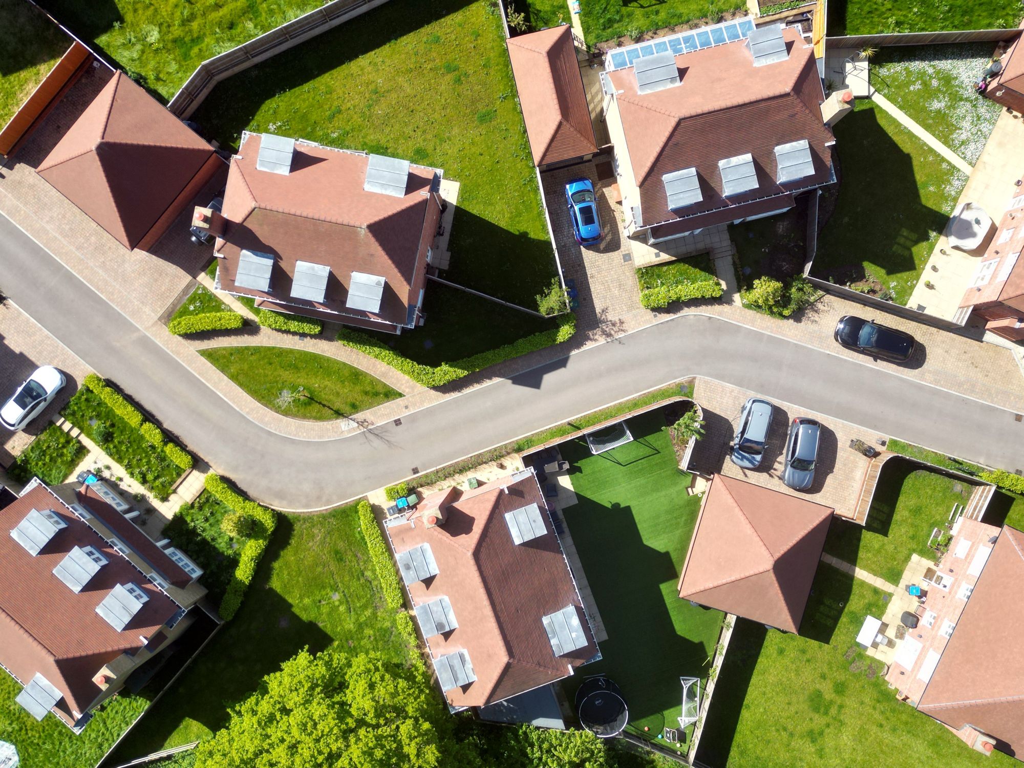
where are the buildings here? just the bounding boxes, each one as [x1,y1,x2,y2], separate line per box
[597,14,855,244]
[676,473,835,634]
[961,176,1024,348]
[0,478,210,735]
[981,1,1024,114]
[886,519,1024,763]
[193,131,443,336]
[35,70,222,252]
[506,23,600,171]
[383,468,601,713]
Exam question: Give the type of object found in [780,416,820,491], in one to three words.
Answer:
car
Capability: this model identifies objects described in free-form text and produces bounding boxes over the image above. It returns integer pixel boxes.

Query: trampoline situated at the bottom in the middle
[575,663,628,734]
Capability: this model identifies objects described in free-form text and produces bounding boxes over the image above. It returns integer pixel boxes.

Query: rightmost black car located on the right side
[831,318,914,360]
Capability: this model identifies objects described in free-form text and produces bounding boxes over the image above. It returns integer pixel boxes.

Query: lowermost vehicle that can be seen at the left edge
[0,363,69,433]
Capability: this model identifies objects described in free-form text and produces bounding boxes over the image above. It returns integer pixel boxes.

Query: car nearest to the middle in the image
[564,178,600,249]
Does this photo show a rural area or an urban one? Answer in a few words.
urban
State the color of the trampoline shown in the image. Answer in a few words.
black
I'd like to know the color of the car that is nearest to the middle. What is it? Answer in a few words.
blue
